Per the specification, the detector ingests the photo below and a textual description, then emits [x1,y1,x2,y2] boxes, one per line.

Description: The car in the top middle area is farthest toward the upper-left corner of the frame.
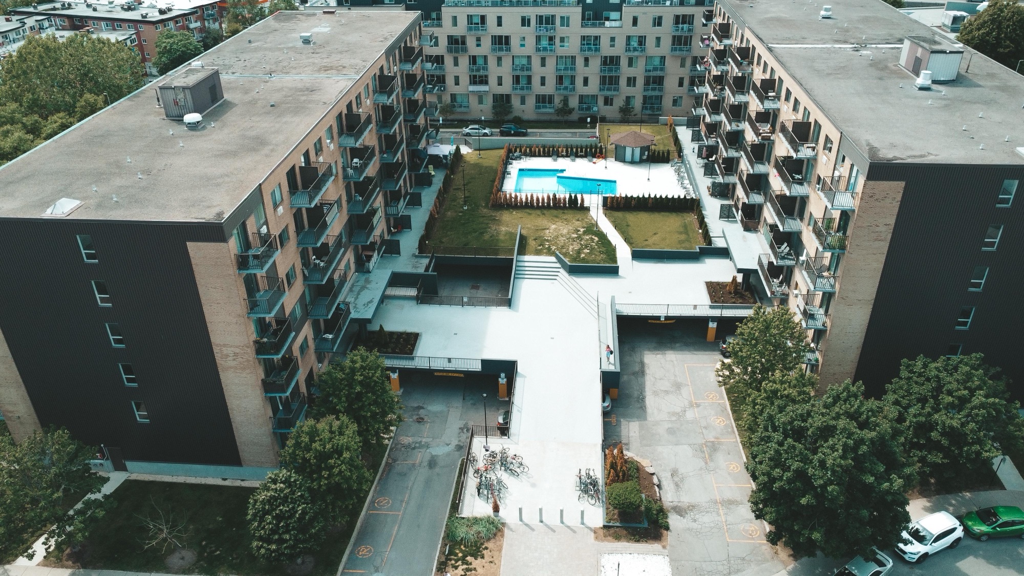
[461,123,496,137]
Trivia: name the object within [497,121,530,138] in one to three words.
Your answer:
car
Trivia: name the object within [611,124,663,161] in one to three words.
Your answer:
building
